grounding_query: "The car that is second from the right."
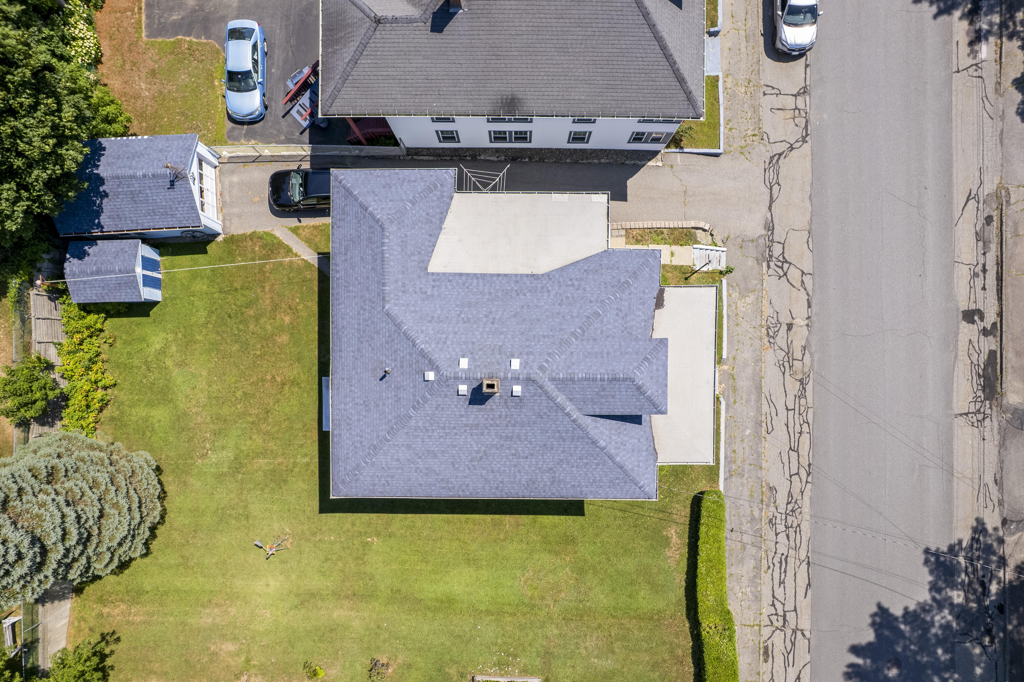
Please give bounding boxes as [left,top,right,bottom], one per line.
[267,162,333,213]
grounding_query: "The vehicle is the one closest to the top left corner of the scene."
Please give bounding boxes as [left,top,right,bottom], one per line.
[218,16,269,126]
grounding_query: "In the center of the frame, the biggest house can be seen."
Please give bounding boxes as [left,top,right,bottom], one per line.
[323,167,719,501]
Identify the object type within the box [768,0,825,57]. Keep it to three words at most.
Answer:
car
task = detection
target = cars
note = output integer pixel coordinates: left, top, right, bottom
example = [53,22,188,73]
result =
[218,16,269,126]
[768,0,825,57]
[267,162,333,213]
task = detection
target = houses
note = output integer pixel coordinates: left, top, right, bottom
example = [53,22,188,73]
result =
[319,0,706,152]
[323,167,719,501]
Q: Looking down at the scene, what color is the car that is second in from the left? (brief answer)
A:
black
